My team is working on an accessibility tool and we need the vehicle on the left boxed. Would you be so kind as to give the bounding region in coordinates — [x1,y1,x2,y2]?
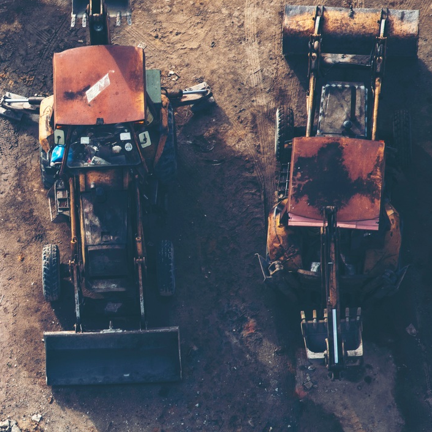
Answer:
[0,0,201,395]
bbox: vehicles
[252,8,420,387]
[0,0,201,395]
